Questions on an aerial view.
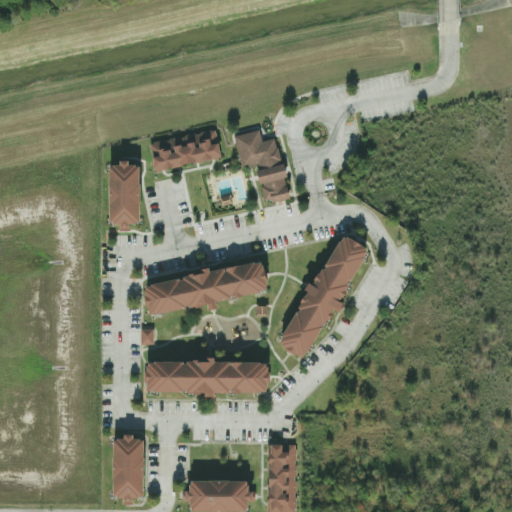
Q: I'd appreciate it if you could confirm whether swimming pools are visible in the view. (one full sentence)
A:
Yes, the photo shows a swimming pool.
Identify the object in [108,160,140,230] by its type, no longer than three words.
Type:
building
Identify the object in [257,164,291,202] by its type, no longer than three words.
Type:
building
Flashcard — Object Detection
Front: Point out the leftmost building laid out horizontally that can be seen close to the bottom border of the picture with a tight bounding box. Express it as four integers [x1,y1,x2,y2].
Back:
[185,481,254,512]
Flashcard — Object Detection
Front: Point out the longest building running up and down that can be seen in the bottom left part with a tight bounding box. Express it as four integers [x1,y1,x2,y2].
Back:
[112,436,144,506]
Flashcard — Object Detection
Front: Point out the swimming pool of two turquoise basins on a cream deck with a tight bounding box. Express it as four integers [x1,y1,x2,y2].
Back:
[208,169,250,210]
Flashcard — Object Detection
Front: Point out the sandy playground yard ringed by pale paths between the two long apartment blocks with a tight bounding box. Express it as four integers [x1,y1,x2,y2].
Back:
[195,316,259,349]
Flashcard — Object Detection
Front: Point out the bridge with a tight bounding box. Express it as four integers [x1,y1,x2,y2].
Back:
[438,0,461,36]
